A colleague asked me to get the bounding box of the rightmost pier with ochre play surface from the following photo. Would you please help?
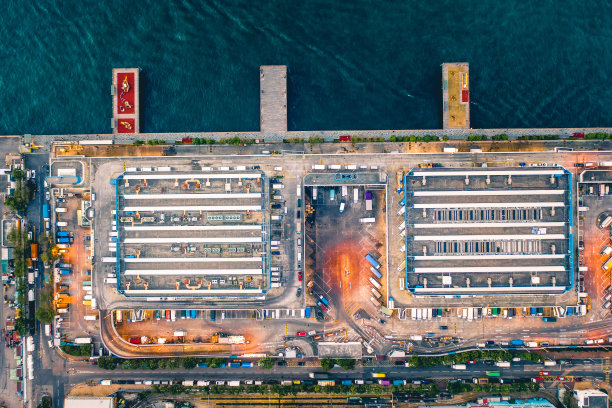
[440,63,469,130]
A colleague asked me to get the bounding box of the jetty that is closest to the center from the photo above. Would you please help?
[260,66,287,132]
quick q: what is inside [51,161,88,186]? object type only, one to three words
house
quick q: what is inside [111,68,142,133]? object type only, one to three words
pier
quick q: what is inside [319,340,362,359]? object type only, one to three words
building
